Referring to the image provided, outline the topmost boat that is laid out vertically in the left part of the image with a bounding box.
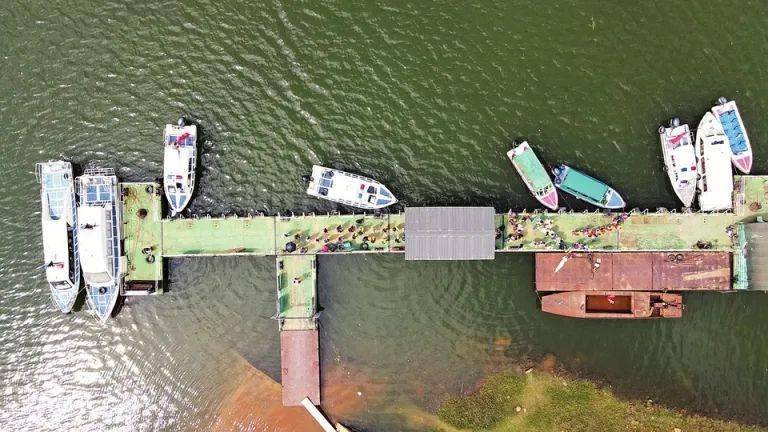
[164,118,196,214]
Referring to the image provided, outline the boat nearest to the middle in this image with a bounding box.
[304,166,398,208]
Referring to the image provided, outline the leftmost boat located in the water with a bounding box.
[37,155,83,314]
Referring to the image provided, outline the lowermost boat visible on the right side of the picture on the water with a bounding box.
[541,291,685,319]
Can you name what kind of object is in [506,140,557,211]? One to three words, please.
boat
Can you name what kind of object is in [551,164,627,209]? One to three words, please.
boat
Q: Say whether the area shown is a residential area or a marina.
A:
marina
